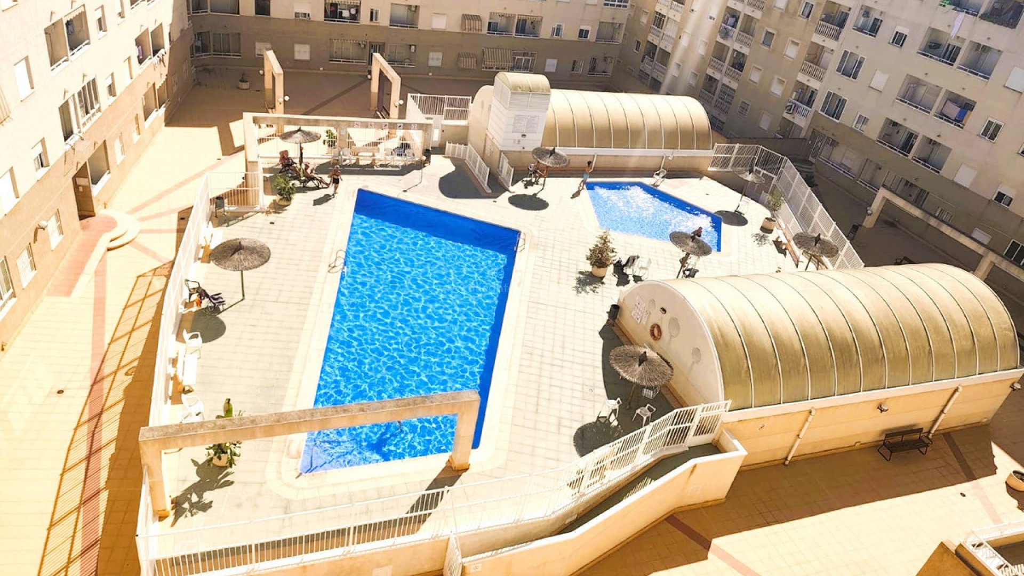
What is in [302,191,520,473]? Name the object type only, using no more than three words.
swimming pool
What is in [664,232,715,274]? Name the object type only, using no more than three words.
umbrella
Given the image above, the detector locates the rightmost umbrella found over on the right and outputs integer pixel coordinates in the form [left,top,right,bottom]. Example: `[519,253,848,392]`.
[794,226,842,267]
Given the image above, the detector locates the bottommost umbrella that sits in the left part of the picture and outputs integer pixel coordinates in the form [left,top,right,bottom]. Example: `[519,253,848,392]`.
[206,243,275,301]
